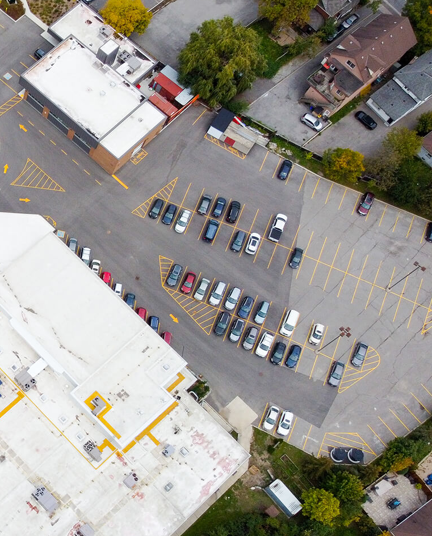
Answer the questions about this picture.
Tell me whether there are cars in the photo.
Yes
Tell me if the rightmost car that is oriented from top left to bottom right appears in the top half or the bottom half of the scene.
top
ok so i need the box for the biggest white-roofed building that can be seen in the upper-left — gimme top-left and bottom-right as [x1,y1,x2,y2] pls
[18,2,166,174]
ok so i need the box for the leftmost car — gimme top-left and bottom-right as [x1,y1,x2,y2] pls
[29,45,48,59]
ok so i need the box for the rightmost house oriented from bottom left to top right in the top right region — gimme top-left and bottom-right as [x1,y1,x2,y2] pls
[363,49,432,131]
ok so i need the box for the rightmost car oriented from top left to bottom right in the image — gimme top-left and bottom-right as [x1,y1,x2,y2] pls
[353,110,378,131]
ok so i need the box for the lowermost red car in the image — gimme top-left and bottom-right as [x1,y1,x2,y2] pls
[161,329,173,348]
